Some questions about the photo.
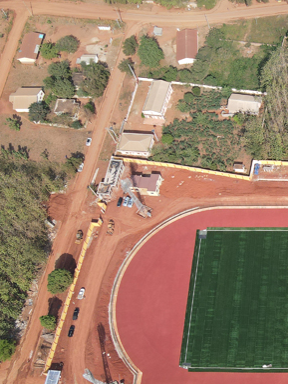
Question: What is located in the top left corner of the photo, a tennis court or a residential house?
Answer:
residential house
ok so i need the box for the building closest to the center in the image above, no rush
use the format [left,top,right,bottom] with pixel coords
[133,174,159,194]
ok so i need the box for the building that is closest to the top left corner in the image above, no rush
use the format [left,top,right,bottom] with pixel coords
[17,31,47,63]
